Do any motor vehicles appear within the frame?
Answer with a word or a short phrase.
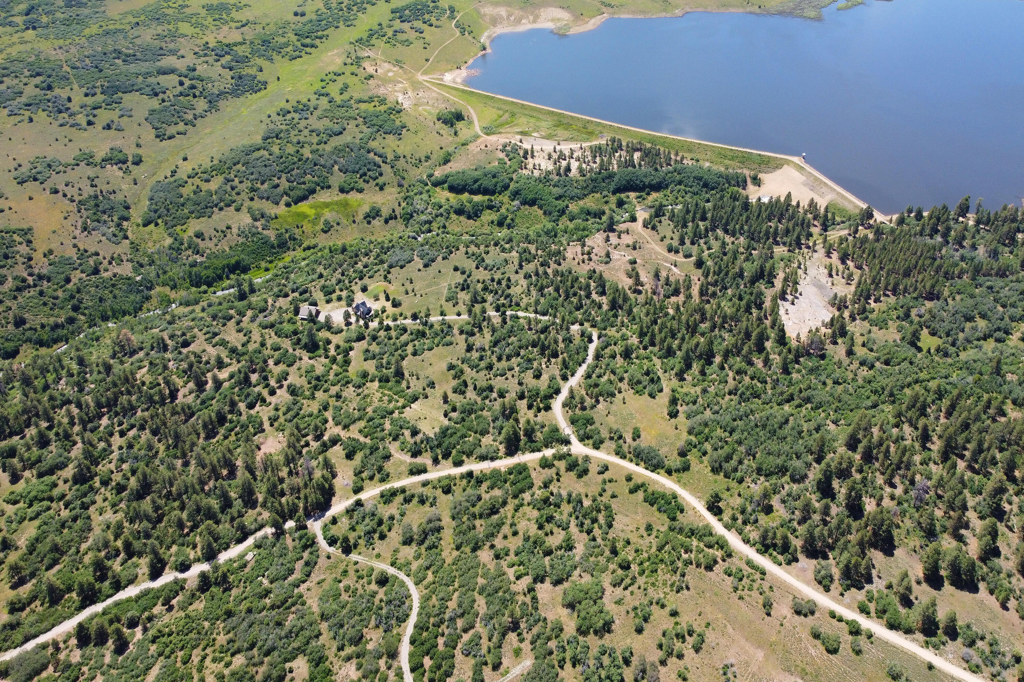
No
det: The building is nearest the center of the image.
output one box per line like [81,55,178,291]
[347,300,374,323]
